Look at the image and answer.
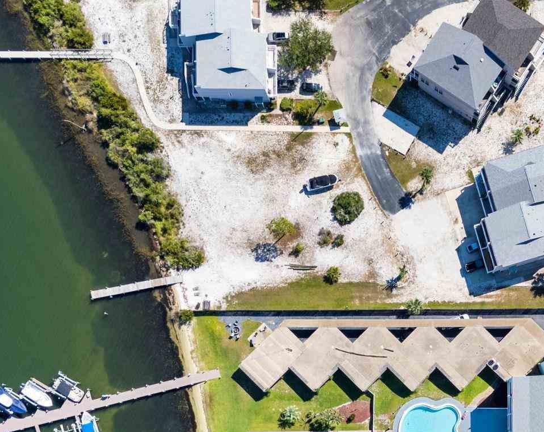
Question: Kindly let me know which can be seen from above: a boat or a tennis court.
boat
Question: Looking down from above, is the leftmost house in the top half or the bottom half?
top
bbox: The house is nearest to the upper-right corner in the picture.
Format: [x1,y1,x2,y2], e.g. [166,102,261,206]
[412,0,544,132]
